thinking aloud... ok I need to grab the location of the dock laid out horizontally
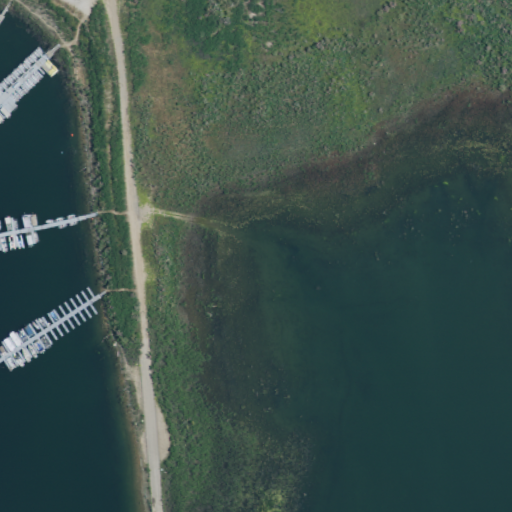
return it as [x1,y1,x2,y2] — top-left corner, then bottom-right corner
[0,212,97,247]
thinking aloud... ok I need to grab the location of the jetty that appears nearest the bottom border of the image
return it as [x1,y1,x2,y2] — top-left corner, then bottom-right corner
[0,288,108,364]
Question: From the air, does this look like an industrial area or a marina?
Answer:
marina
